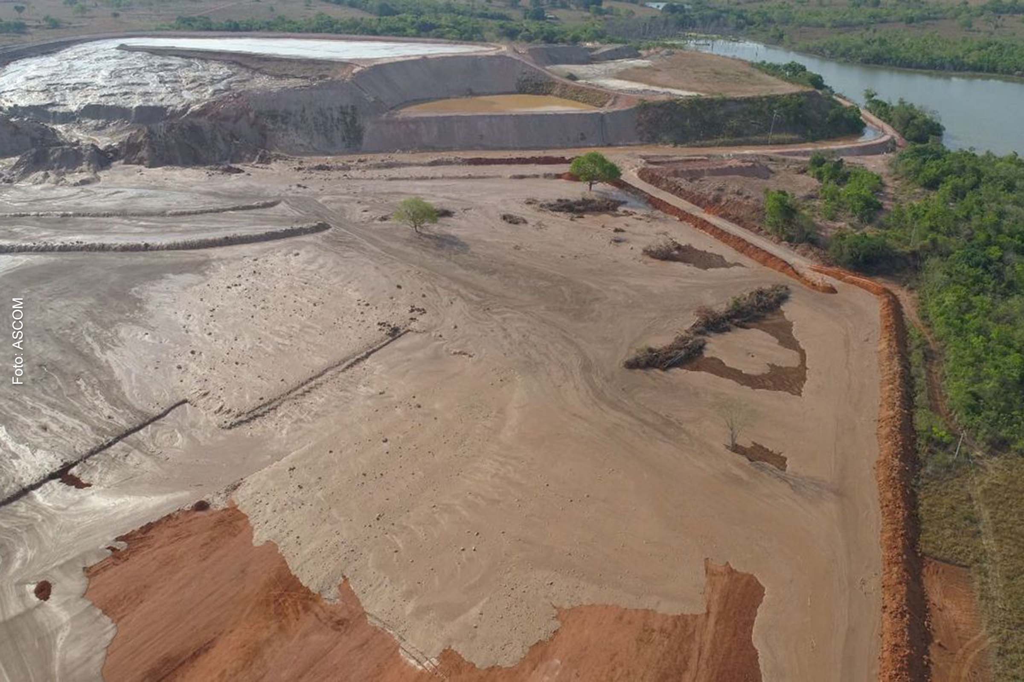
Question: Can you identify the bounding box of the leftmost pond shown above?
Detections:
[114,37,479,58]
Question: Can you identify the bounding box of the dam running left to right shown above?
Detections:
[0,31,544,160]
